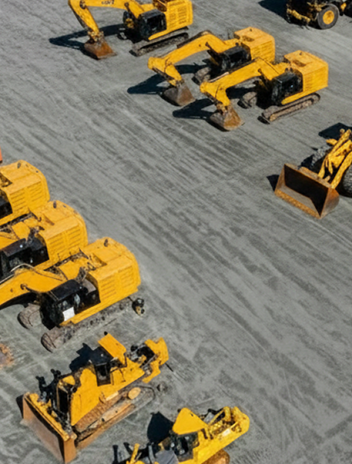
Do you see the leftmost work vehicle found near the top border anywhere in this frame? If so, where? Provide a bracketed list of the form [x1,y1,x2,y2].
[68,0,195,63]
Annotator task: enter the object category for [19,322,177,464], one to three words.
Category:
work vehicle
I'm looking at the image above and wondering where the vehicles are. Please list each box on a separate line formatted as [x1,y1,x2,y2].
[0,162,47,233]
[19,322,177,464]
[68,0,195,63]
[275,126,352,222]
[286,0,352,29]
[148,26,273,104]
[129,386,254,464]
[0,239,139,370]
[195,49,325,135]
